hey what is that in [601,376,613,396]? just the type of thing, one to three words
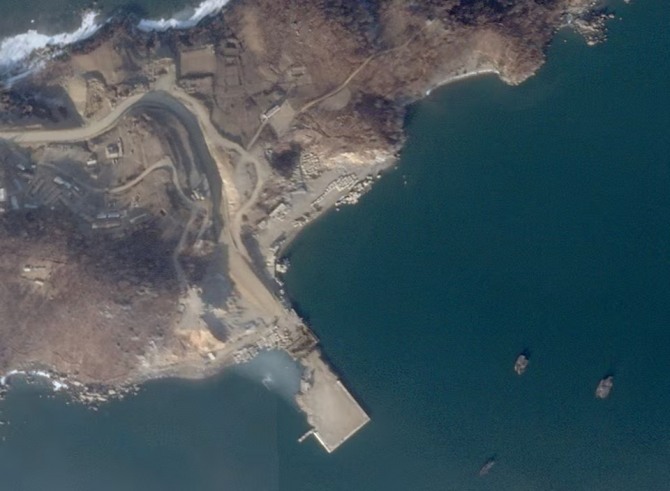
boat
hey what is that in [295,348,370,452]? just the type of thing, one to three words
pier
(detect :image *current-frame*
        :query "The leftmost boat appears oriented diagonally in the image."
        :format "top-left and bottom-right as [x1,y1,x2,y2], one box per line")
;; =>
[478,459,493,476]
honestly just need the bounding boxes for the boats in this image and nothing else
[512,356,522,374]
[520,354,529,371]
[478,459,493,476]
[601,376,613,396]
[594,379,606,399]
